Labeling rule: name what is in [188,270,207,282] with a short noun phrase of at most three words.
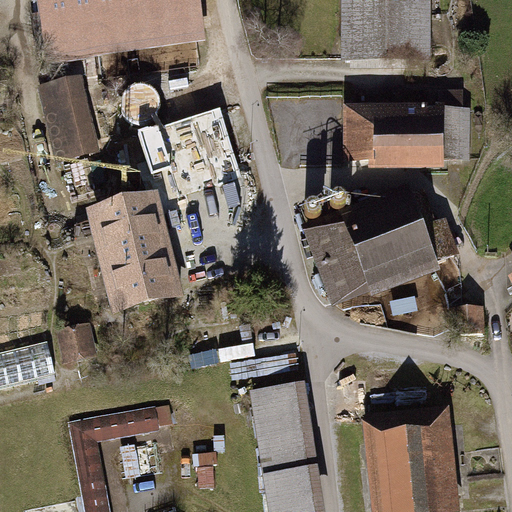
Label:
vehicle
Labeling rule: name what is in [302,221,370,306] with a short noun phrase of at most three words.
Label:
barn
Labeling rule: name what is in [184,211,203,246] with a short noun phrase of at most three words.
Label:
vehicle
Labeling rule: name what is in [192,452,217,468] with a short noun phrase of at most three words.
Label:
shed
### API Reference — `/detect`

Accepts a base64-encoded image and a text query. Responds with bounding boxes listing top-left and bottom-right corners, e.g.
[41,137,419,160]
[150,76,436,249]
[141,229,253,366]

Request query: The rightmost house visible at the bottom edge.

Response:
[361,405,460,512]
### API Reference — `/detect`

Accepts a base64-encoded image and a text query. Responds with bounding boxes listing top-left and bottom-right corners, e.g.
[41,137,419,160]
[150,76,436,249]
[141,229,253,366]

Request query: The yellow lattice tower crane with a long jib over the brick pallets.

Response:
[3,148,141,190]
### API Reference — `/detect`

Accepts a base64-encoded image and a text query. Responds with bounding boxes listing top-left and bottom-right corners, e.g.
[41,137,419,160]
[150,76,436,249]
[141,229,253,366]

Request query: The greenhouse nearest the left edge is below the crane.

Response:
[0,341,56,388]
